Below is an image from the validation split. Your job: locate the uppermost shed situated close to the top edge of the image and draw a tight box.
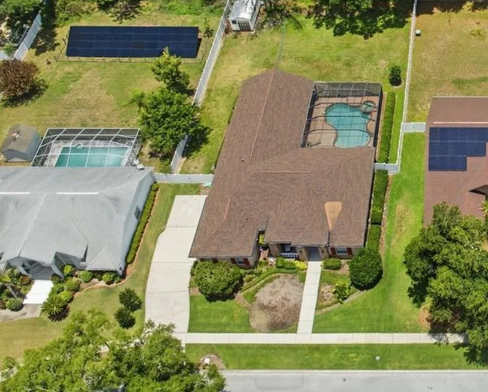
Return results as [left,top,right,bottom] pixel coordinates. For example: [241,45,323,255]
[229,0,263,26]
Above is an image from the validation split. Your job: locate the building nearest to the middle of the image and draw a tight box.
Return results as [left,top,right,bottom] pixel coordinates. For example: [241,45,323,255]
[189,71,376,266]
